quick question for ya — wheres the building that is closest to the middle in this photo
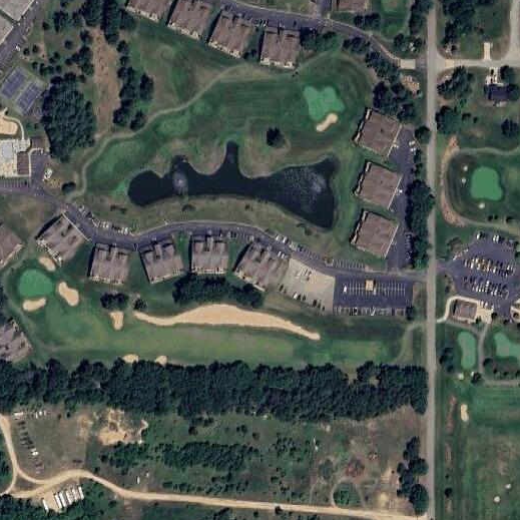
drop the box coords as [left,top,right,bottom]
[237,239,288,290]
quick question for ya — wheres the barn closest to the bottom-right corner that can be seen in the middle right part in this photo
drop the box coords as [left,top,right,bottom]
[454,300,477,320]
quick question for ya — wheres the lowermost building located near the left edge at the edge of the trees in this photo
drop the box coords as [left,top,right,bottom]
[0,321,30,364]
